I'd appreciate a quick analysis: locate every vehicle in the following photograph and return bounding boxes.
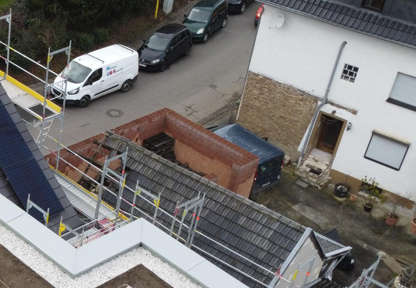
[176,0,234,43]
[49,40,142,107]
[233,0,252,14]
[134,20,196,72]
[205,118,287,191]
